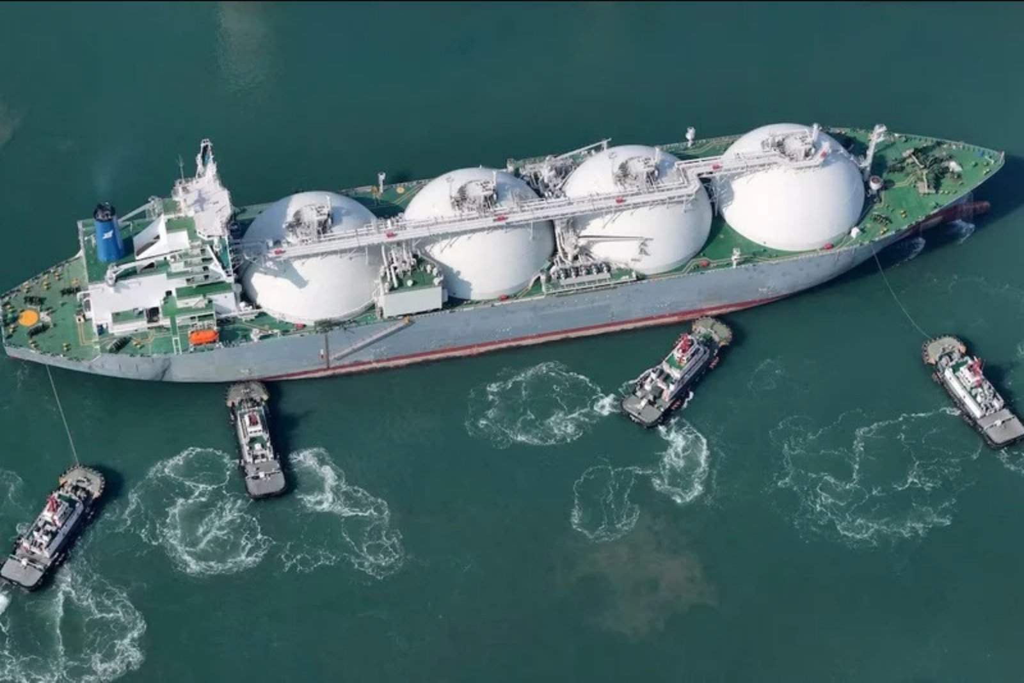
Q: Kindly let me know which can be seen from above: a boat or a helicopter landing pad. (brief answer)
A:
boat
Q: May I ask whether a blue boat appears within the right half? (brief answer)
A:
No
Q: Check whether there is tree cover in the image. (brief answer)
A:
No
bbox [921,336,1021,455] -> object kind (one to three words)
boat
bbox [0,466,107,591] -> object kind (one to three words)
boat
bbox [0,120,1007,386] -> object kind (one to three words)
ship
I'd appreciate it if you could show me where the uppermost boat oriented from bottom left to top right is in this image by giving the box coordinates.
[625,317,728,426]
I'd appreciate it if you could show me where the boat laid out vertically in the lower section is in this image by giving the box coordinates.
[221,379,288,504]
